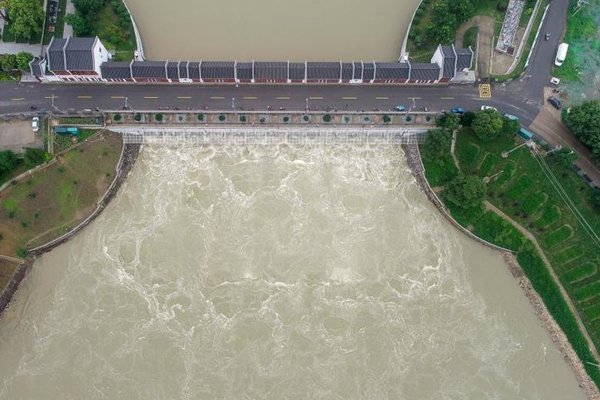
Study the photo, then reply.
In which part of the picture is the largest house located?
top left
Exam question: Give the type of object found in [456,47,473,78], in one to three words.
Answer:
house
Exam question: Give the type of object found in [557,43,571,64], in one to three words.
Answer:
vehicle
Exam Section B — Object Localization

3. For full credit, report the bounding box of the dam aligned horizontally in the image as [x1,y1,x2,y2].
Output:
[102,111,435,146]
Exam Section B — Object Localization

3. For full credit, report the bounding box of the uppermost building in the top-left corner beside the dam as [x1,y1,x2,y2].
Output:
[45,36,111,81]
